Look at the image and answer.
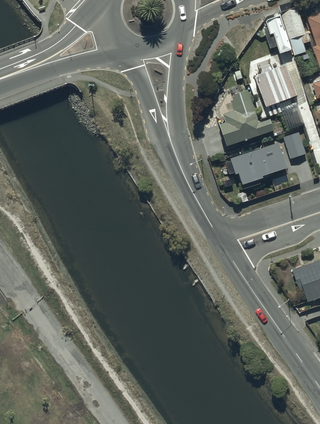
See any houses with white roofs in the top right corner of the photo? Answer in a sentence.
Yes, the scene does show a house with a white roof in the top right corner of the photo.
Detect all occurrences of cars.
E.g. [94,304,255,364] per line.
[261,232,277,240]
[242,239,256,248]
[192,173,202,189]
[176,42,183,56]
[256,308,268,324]
[179,5,186,21]
[220,0,236,9]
